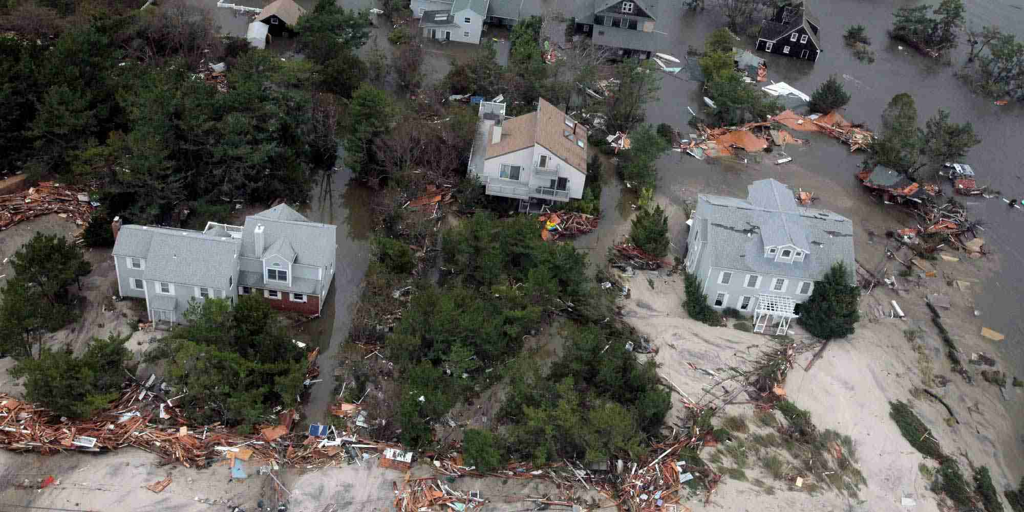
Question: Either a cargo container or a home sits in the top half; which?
home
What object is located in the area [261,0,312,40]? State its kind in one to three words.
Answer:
house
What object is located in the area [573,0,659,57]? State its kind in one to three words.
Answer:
house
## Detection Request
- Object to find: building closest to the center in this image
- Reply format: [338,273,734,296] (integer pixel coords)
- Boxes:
[468,96,590,222]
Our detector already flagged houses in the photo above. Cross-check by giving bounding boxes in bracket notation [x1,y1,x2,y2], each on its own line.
[261,0,312,40]
[468,96,590,222]
[756,2,821,61]
[414,0,548,43]
[573,0,659,57]
[687,176,860,333]
[108,191,340,334]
